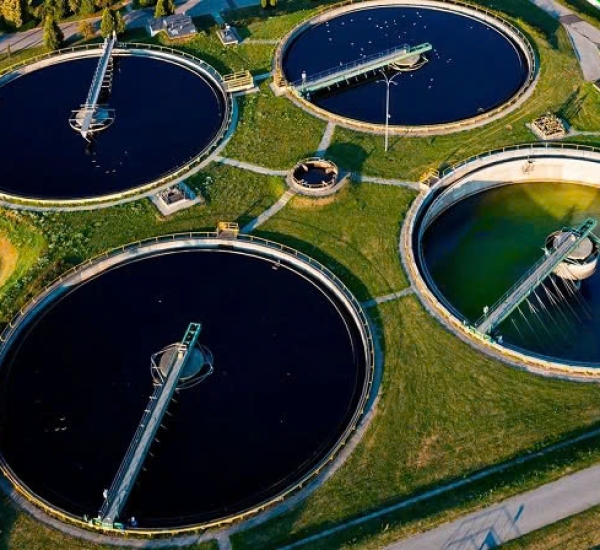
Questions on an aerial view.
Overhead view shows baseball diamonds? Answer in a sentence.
No, there is no baseball diamond in the image.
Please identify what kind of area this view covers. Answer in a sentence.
The picture captures an industrial area.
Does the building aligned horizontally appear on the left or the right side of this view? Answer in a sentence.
The building aligned horizontally appears in the left half of the scene.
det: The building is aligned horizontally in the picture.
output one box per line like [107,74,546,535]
[146,21,199,46]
